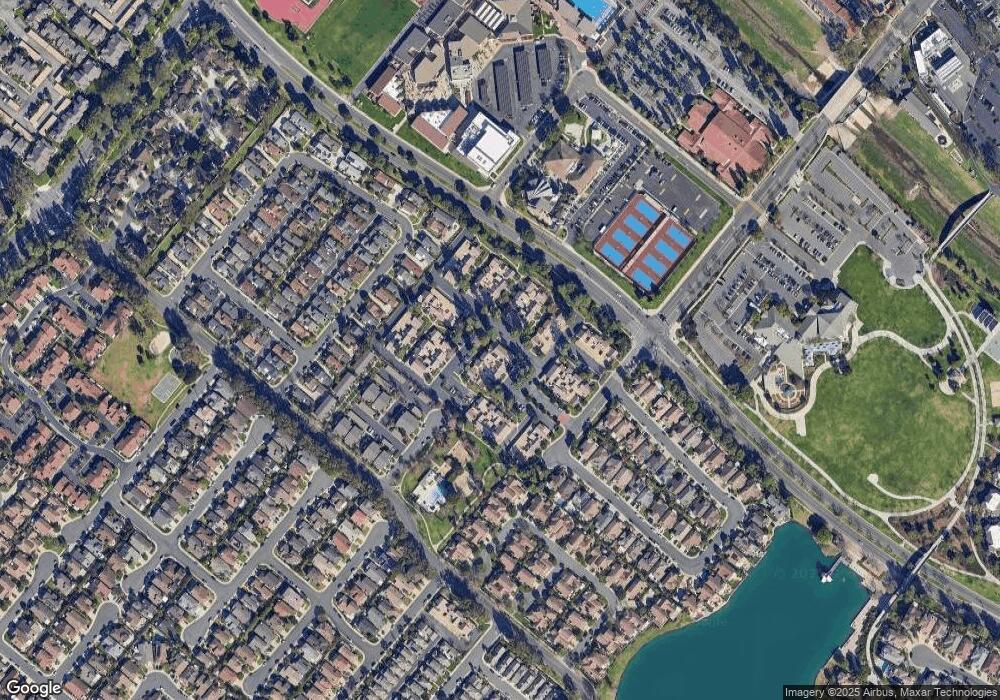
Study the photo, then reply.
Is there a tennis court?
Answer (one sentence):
Yes, a tennis court is visible in the scene.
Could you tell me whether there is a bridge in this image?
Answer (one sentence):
Yes, the frame does contain a bridge.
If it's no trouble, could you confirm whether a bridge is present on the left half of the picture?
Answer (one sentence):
No, I see no bridge on the left half of the picture.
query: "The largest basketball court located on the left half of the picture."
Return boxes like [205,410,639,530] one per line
[152,372,182,401]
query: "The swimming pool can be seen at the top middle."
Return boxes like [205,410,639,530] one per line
[576,0,618,26]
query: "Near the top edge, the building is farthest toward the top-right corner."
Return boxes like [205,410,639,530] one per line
[921,28,963,88]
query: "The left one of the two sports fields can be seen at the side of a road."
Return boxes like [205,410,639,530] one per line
[98,330,184,426]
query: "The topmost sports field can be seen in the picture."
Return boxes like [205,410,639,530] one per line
[311,0,418,88]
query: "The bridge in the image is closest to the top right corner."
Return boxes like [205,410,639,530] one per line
[819,60,874,125]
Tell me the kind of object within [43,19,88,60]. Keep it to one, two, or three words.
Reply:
building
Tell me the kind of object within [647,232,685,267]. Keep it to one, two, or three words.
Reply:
tennis court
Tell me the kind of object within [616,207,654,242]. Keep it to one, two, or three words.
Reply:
tennis court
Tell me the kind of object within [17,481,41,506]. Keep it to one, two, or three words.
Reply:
house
